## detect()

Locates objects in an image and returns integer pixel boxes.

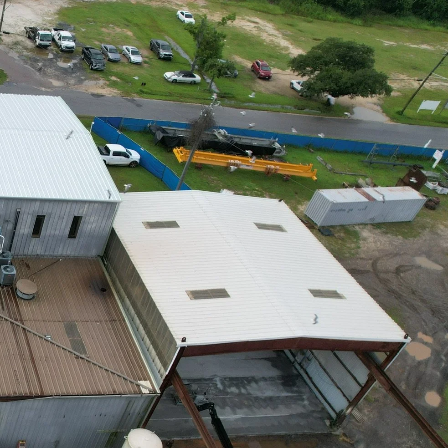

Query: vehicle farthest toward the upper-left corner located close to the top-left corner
[28,25,55,47]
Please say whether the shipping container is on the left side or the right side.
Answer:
right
